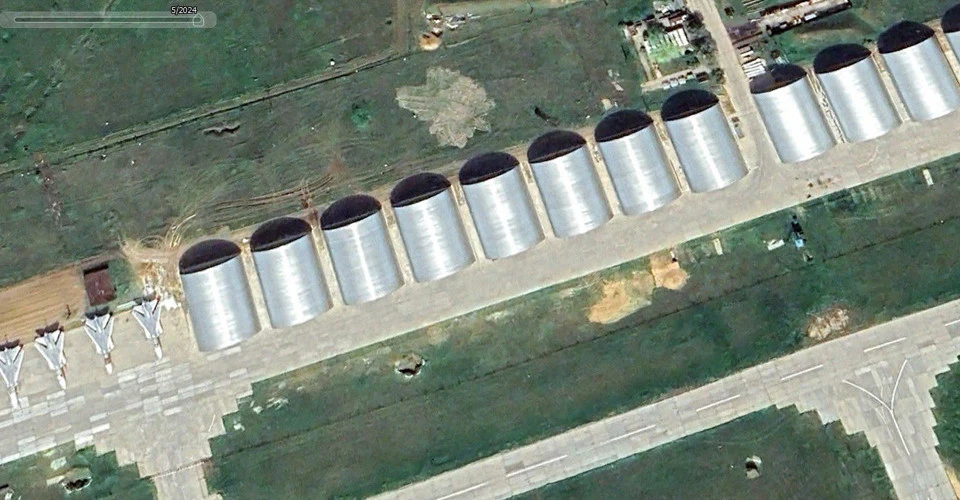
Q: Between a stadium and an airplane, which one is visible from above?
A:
airplane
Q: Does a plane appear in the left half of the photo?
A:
Yes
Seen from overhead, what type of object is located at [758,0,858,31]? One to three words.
building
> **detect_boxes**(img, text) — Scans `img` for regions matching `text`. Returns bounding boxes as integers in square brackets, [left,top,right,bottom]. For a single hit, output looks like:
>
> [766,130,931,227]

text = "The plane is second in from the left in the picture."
[36,332,66,391]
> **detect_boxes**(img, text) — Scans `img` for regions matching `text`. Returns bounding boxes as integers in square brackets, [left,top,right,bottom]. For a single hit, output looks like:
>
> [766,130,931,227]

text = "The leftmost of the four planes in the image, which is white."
[0,349,21,410]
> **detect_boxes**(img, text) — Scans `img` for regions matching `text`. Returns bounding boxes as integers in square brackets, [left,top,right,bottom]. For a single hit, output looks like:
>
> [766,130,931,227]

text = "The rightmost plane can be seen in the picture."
[130,300,161,358]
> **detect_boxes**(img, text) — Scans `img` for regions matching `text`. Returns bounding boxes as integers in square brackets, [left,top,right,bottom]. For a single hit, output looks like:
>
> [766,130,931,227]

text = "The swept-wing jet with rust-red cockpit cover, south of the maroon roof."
[82,315,111,375]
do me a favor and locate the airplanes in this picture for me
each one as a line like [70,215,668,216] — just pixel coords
[36,332,66,391]
[0,349,21,410]
[82,315,111,375]
[130,300,161,358]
